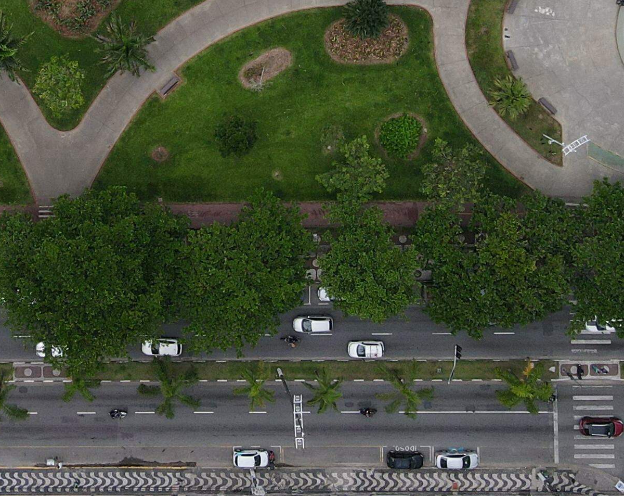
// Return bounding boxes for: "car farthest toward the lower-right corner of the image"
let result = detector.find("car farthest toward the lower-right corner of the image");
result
[582,416,624,439]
